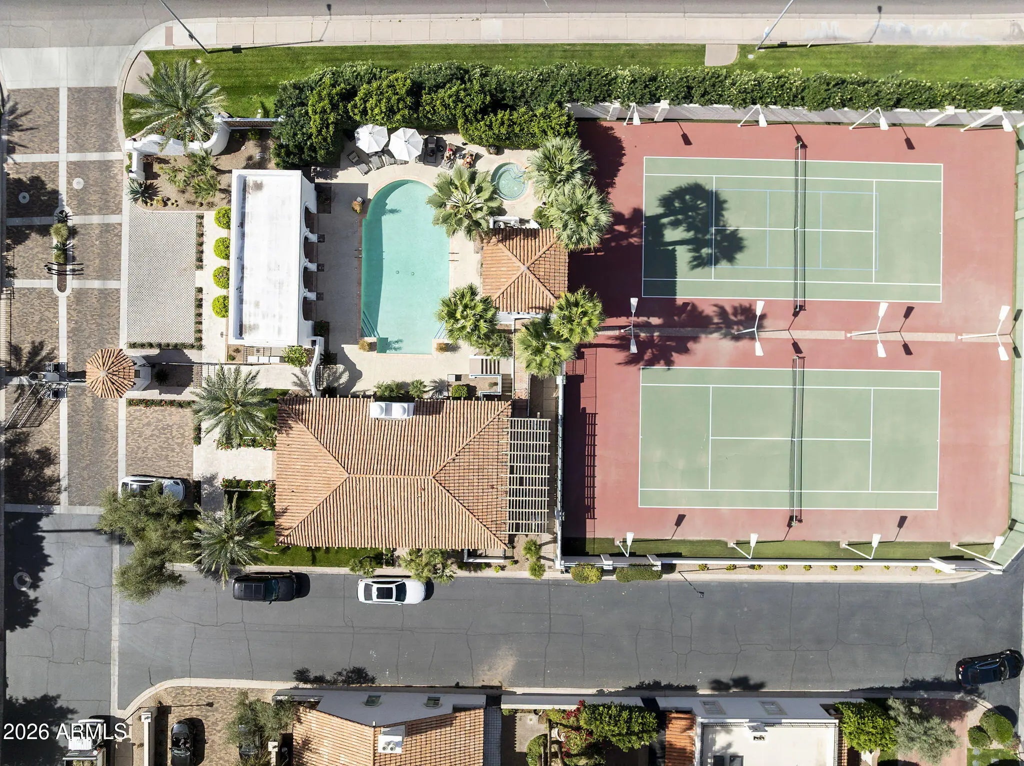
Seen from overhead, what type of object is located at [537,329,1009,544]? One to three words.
tennis court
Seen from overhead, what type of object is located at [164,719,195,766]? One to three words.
car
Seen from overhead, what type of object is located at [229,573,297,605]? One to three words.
car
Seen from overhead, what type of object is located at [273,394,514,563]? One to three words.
building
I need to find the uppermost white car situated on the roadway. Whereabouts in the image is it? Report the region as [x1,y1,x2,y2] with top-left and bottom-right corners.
[358,577,427,608]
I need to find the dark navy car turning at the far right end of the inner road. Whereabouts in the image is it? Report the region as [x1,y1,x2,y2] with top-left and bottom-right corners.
[955,651,1023,688]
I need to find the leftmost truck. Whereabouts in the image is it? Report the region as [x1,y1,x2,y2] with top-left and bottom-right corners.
[60,721,107,766]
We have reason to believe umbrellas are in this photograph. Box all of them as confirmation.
[354,119,390,153]
[389,126,425,161]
